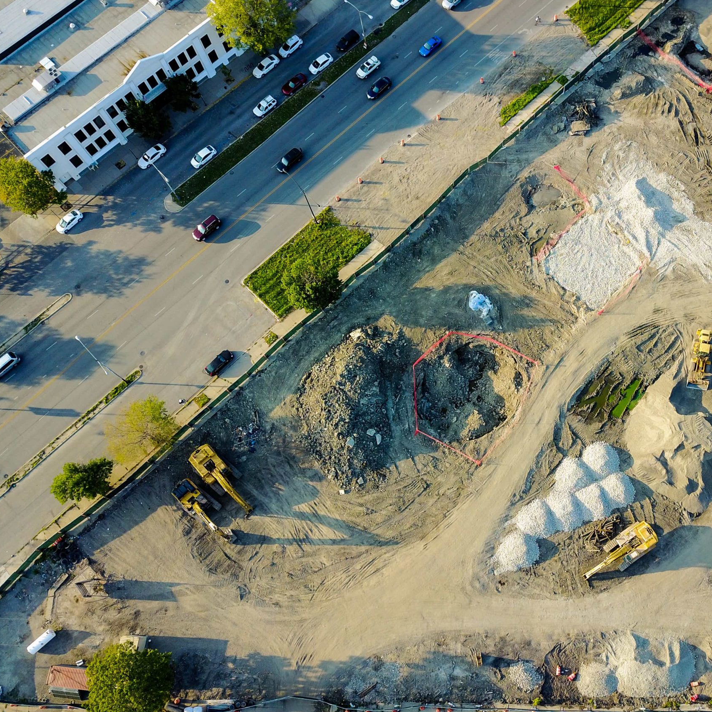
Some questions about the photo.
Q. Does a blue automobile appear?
Yes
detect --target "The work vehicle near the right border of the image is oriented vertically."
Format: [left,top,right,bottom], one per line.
[688,331,712,389]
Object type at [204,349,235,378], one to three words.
car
